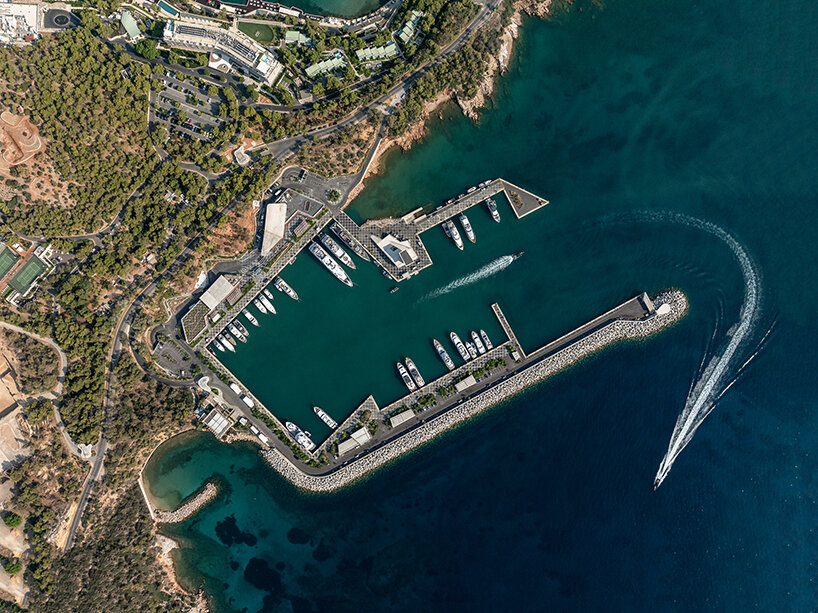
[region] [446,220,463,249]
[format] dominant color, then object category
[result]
white boat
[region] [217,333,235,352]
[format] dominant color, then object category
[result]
white boat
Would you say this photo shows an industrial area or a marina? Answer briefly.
marina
